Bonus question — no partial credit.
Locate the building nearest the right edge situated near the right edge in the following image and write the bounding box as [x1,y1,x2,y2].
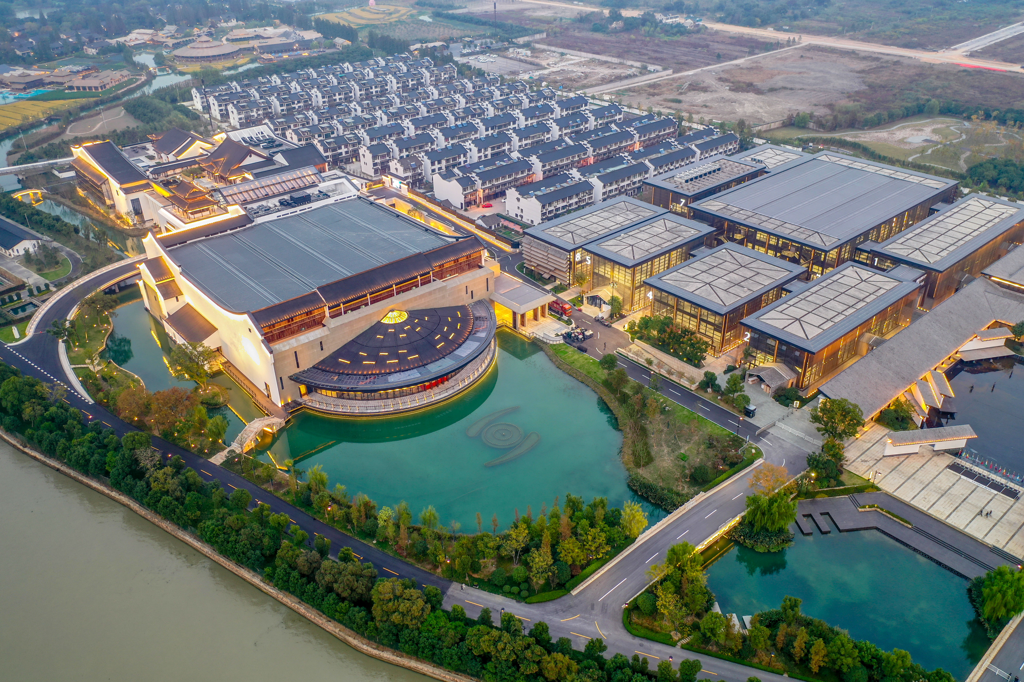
[980,253,1024,303]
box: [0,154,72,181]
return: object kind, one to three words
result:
bridge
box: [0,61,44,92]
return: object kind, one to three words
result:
house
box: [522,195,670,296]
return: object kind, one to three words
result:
building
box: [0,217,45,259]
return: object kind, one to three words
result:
building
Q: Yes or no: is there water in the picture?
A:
Yes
